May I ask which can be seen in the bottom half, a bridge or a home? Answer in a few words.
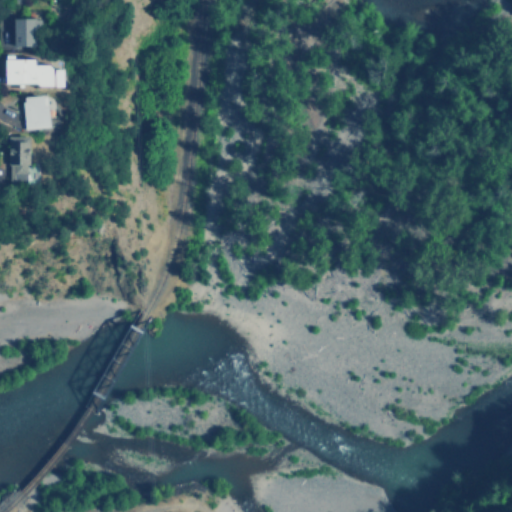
bridge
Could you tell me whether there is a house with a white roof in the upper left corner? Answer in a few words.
Yes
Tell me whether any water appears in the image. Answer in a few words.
Yes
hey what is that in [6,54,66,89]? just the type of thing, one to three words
house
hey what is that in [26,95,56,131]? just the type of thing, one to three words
house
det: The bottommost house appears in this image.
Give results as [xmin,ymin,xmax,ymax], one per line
[10,137,40,182]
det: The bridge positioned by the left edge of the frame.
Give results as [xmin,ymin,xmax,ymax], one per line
[16,308,154,498]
